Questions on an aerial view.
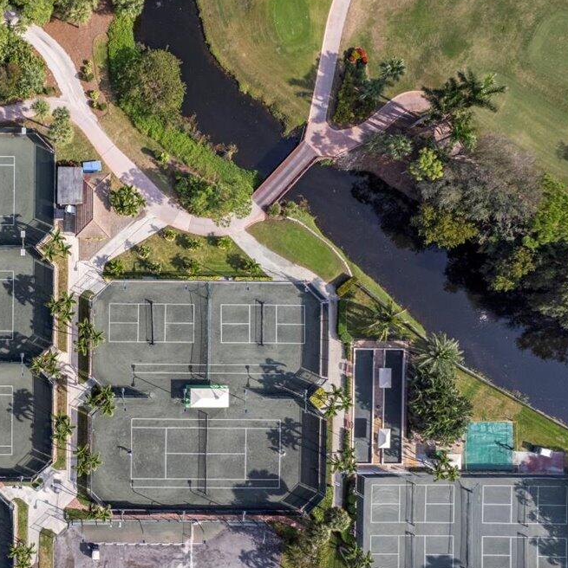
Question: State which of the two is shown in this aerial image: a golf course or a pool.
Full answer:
Visible in the photo is a golf course.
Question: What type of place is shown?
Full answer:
It's a sports ground.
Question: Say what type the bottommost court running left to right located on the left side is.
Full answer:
The bottommost court running left to right located on the left side appears to be a tennis court.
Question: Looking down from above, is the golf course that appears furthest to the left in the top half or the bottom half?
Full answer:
You can find the golf course that appears furthest to the left in the top half.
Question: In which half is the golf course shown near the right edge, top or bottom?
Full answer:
The golf course shown near the right edge sits in the top half of the picture.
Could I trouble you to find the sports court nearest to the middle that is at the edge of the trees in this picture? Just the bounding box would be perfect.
[206,283,319,398]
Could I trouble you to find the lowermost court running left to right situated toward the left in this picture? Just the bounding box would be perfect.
[89,398,320,510]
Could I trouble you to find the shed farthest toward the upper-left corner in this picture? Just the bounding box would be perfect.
[58,164,82,204]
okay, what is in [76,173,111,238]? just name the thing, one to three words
building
